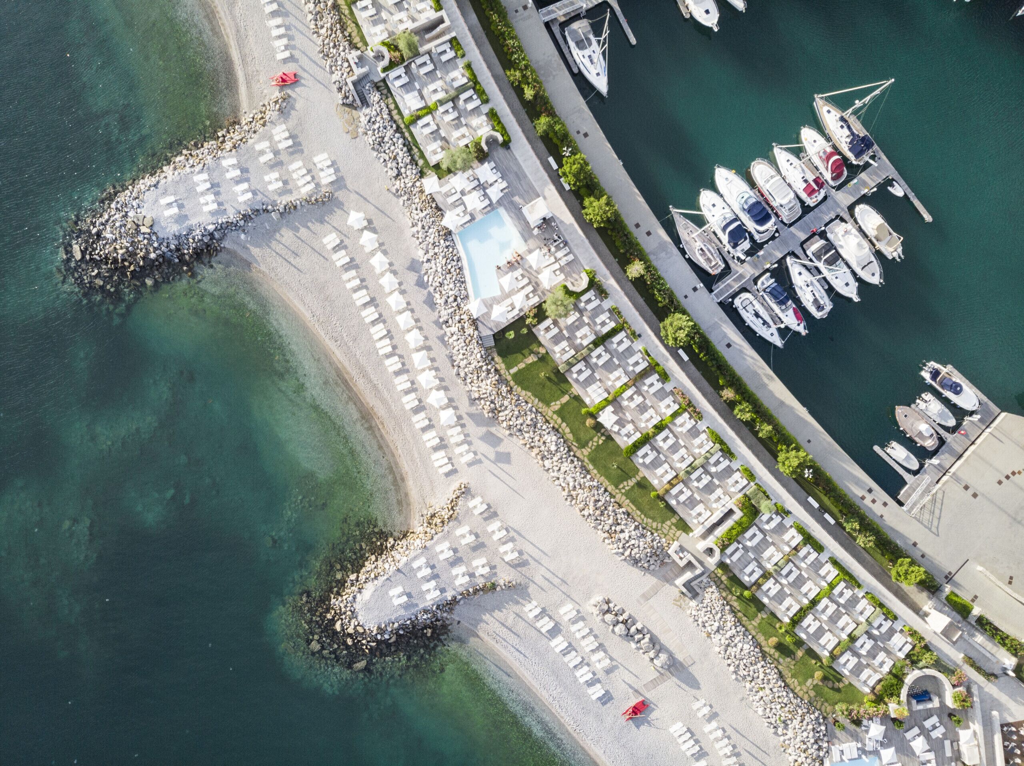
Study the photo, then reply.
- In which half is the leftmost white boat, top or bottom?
top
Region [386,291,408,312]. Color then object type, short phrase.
white umbrella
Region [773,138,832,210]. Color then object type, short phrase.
white boat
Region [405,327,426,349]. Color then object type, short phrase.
white umbrella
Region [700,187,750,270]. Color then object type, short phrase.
white boat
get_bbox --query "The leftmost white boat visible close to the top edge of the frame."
[568,8,614,100]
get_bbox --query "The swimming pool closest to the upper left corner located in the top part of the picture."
[451,206,528,303]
